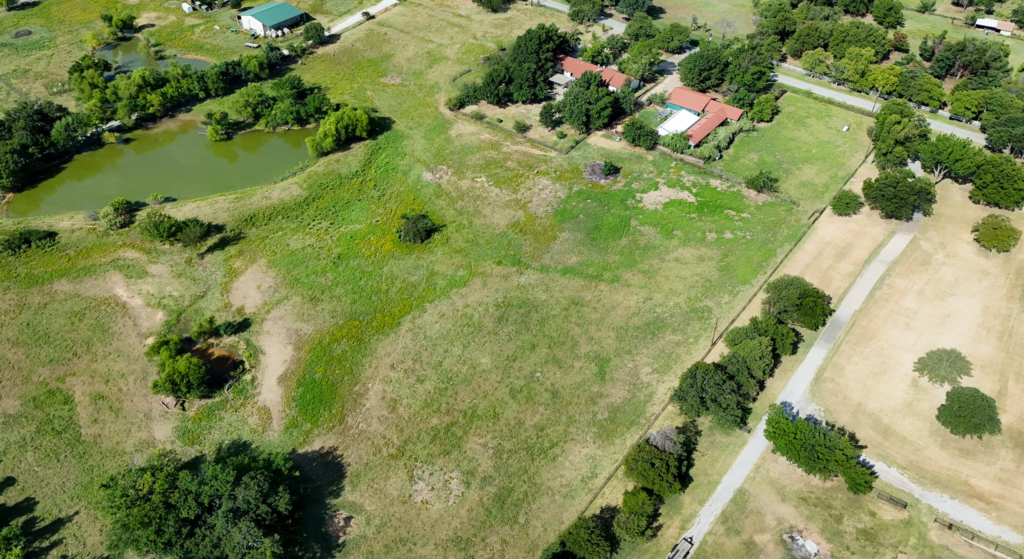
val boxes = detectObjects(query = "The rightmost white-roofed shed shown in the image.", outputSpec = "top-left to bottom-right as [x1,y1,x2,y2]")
[976,16,1018,37]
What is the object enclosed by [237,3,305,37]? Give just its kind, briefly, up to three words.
barn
